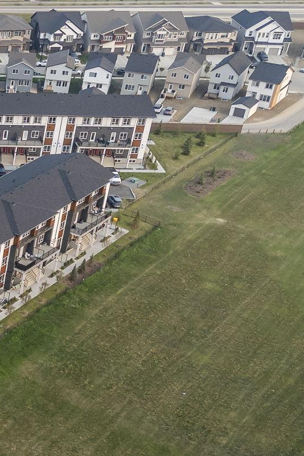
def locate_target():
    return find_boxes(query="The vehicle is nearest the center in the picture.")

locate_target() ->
[107,195,123,208]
